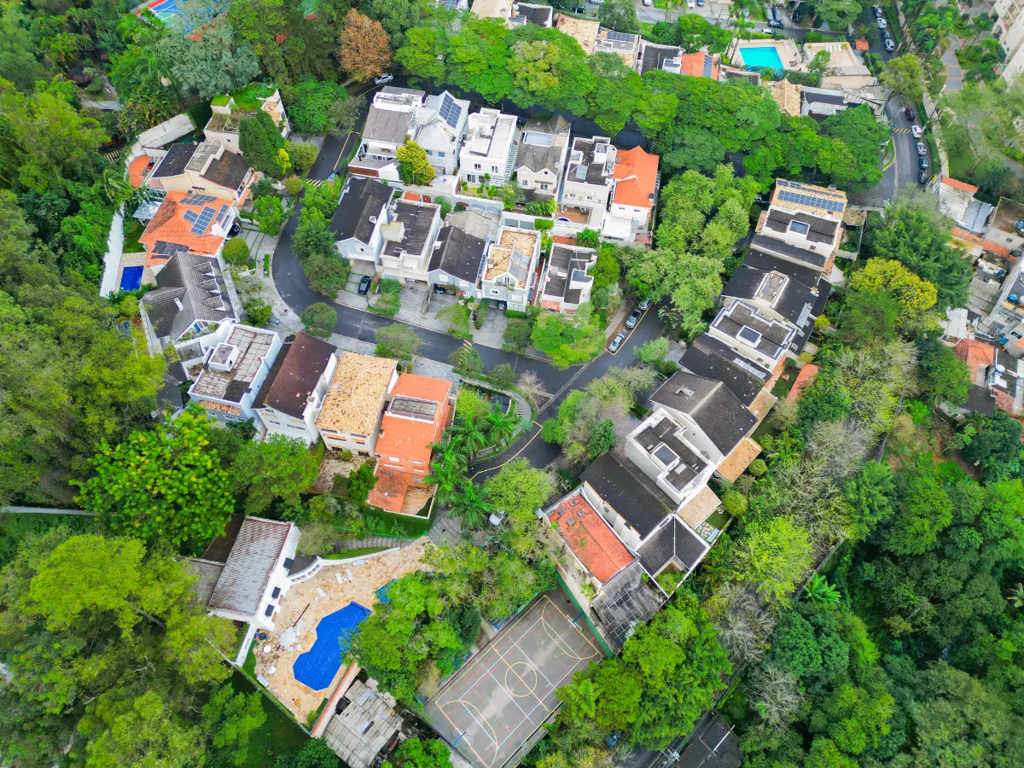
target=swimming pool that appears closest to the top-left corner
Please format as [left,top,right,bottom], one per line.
[118,264,145,293]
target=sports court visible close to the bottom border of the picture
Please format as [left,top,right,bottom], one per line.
[435,596,598,768]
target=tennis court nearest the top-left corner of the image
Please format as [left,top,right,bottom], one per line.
[145,0,240,37]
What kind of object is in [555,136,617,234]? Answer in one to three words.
house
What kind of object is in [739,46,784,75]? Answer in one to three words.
swimming pool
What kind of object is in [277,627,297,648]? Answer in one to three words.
umbrella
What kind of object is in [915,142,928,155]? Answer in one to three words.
vehicle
